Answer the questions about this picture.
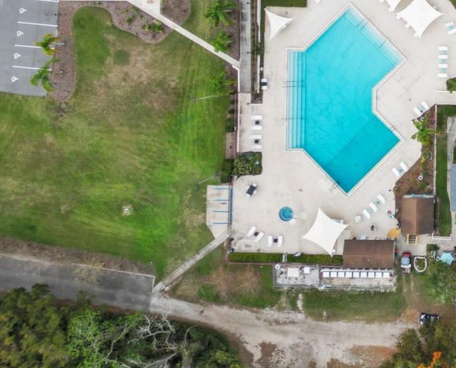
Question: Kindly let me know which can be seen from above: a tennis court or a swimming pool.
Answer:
swimming pool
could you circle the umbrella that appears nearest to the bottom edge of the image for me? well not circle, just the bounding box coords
[440,251,454,264]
